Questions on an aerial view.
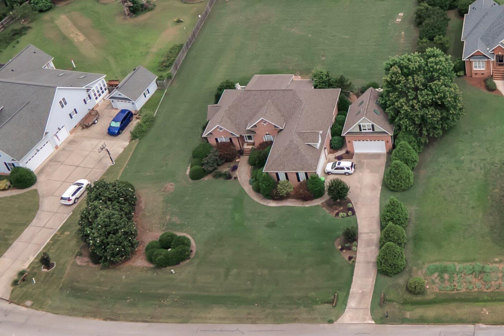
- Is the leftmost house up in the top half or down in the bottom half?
top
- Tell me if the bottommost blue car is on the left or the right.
left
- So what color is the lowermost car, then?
white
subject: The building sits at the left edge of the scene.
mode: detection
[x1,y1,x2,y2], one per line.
[0,35,115,174]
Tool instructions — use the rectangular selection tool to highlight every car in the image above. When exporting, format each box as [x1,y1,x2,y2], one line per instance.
[105,106,136,135]
[323,159,357,176]
[56,180,94,207]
